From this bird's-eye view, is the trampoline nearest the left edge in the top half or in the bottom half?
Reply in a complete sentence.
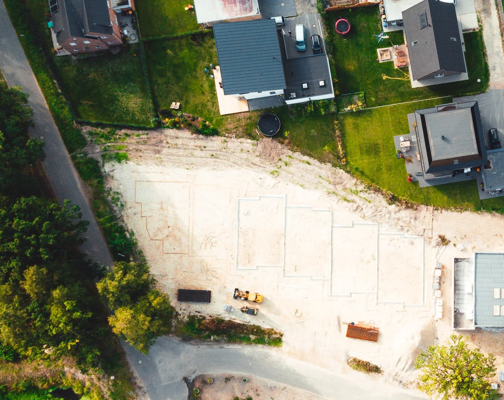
The top half of the photo is where the trampoline nearest the left edge is.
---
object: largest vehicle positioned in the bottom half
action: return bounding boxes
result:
[230,287,262,304]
